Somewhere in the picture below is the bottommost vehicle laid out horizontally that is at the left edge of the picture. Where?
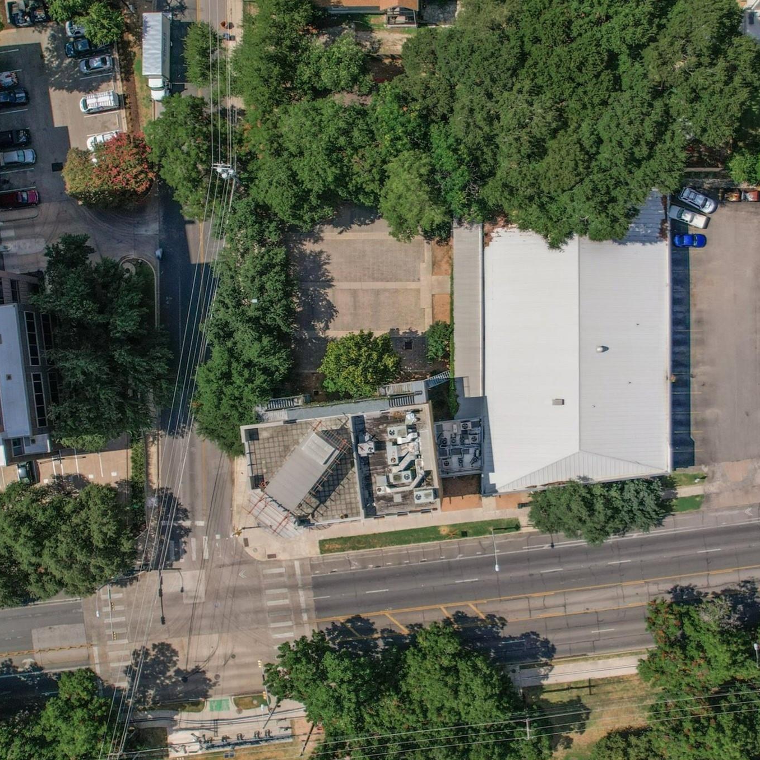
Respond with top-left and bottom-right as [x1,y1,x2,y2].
[0,189,41,210]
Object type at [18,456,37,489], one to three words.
car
